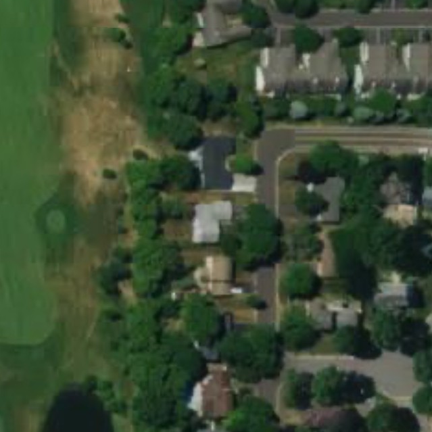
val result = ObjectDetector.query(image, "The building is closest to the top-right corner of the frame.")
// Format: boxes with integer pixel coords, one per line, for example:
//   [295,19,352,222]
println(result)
[355,38,432,99]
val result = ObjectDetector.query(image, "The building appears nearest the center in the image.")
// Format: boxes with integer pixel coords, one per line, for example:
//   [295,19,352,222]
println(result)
[193,203,232,243]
